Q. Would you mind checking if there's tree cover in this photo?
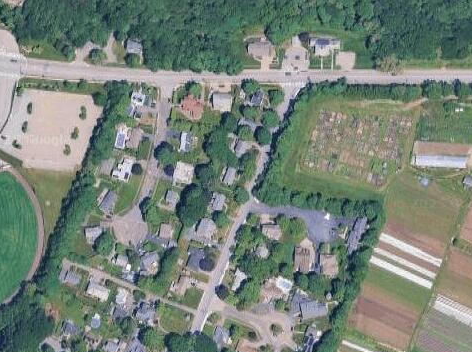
Yes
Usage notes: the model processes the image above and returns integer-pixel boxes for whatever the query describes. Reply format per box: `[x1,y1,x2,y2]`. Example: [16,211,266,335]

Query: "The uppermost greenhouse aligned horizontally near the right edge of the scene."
[413,155,467,168]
